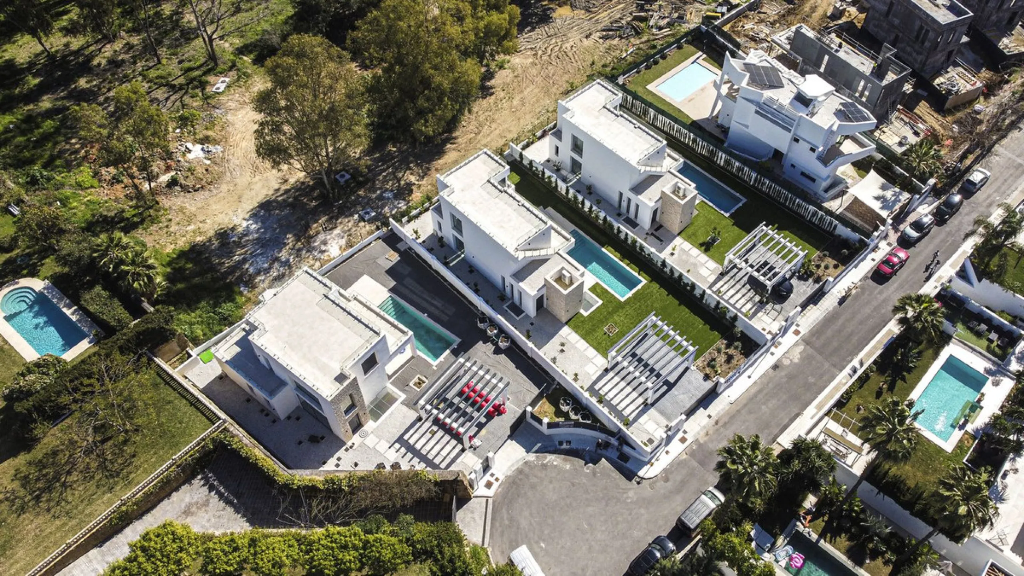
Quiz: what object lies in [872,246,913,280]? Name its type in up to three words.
car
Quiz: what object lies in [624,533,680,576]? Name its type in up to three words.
car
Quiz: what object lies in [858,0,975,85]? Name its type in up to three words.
house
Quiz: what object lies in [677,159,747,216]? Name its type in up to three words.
swimming pool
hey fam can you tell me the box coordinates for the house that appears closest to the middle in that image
[434,146,604,322]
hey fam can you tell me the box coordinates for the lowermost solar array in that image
[839,102,871,129]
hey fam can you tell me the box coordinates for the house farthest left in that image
[213,264,416,442]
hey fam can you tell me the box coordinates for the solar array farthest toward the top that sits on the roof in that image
[742,63,784,89]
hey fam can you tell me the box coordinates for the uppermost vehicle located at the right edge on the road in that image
[957,167,994,196]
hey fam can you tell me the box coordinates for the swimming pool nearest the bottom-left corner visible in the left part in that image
[0,285,90,358]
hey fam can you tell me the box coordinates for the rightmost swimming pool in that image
[911,349,993,447]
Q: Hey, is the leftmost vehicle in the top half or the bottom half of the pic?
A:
bottom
